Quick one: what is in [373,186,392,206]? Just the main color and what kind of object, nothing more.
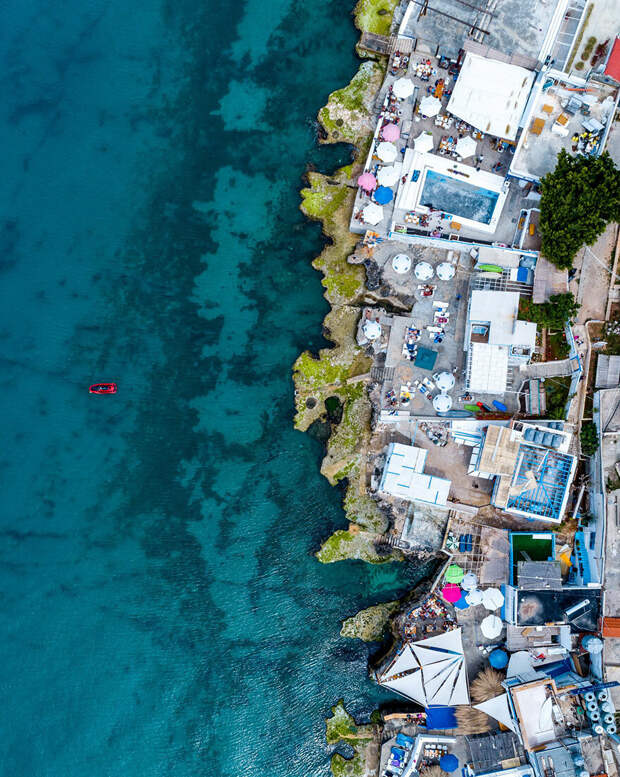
blue umbrella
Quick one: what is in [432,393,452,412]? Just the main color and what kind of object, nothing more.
white umbrella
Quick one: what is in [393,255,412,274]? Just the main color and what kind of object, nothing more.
white umbrella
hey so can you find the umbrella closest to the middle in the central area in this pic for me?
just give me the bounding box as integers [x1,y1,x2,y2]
[364,321,380,338]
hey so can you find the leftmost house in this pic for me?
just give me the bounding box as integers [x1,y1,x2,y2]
[376,441,451,505]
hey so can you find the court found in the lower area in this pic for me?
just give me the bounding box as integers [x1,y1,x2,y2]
[508,530,555,587]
